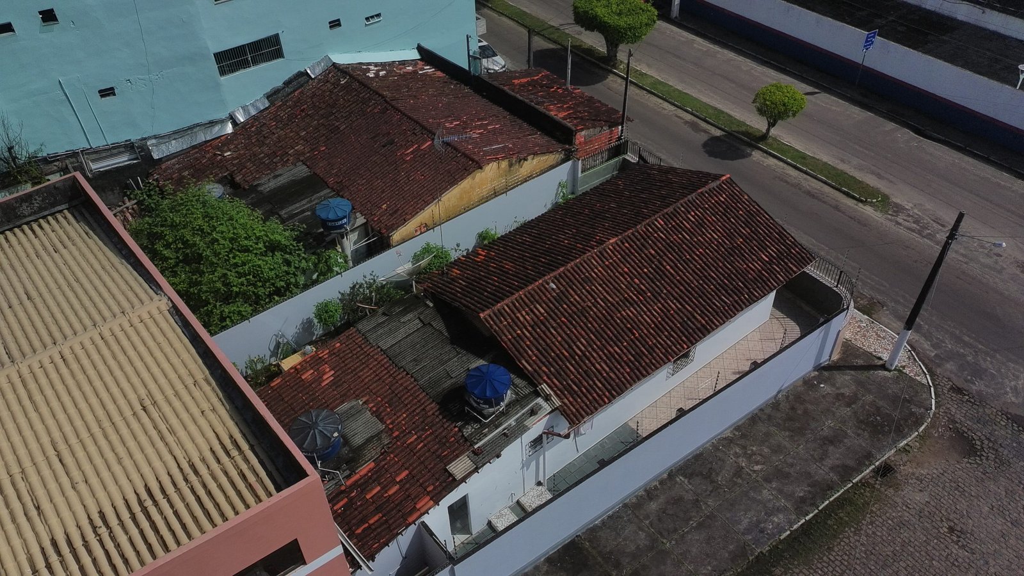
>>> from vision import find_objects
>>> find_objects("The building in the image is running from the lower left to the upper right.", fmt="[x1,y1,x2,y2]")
[255,160,817,576]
